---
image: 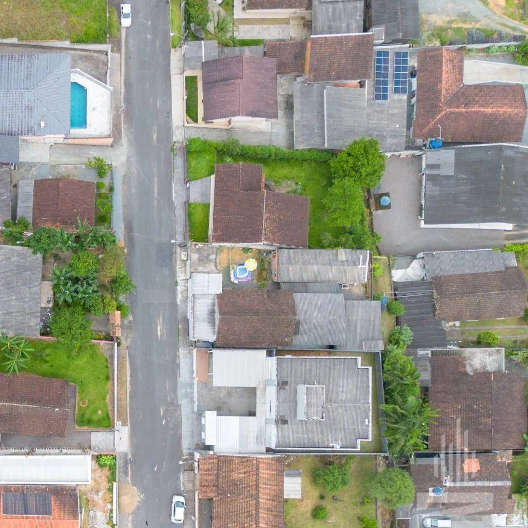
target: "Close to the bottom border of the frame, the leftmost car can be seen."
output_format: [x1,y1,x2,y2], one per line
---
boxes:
[170,494,186,524]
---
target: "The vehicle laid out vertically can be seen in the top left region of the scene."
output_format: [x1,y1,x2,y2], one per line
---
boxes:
[120,2,133,28]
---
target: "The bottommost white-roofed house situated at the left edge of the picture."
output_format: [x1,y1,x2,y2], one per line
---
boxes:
[0,453,91,484]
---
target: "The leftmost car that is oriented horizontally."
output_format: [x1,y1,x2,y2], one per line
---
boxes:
[422,515,452,528]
